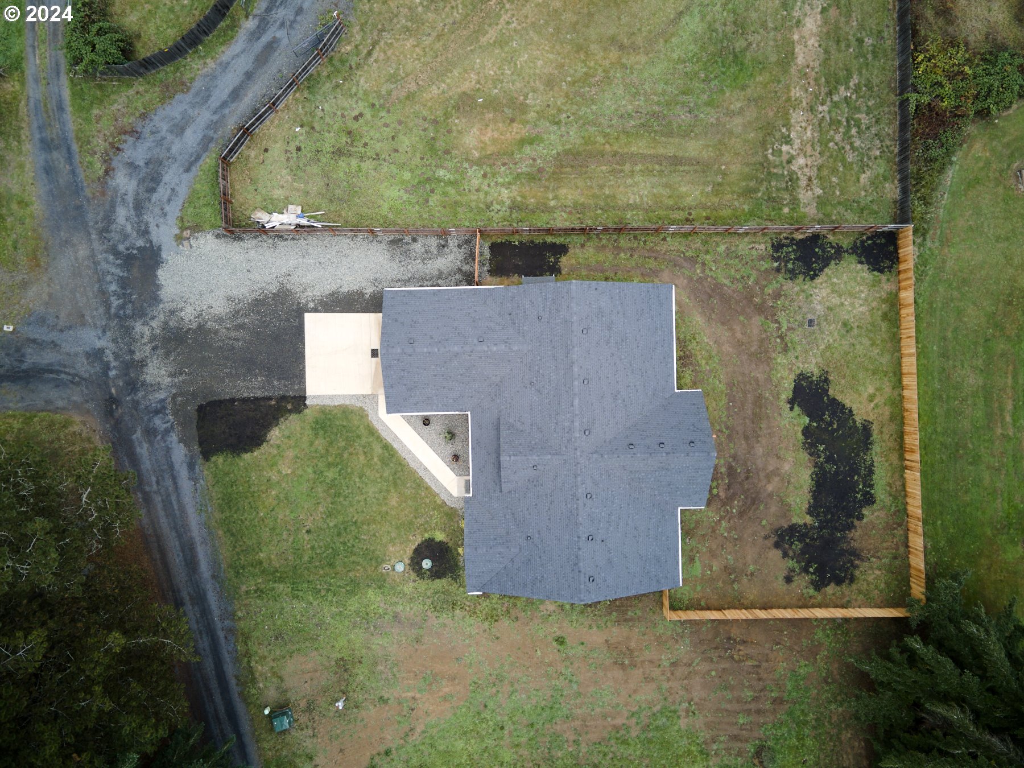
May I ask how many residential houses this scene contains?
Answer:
1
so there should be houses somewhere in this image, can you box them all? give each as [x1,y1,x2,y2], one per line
[380,276,715,603]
